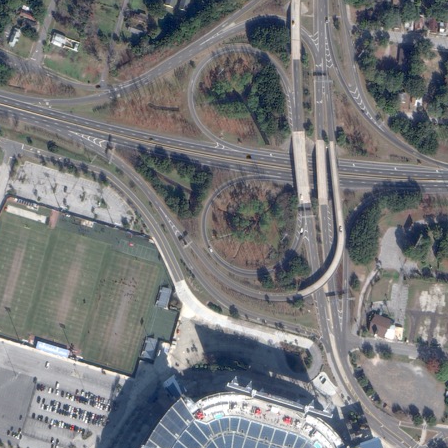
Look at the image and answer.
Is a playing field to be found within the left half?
Yes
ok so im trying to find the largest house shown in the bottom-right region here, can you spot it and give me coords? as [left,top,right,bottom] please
[369,315,395,339]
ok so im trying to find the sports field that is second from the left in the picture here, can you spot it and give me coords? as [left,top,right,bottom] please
[26,237,102,351]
